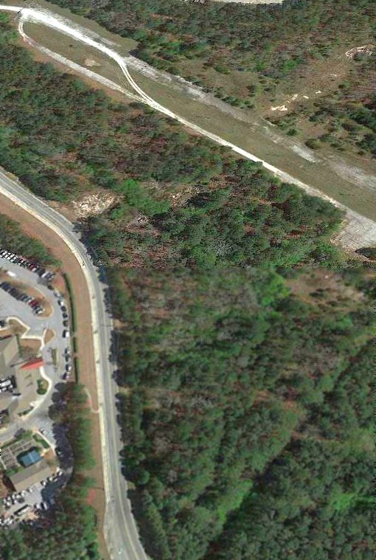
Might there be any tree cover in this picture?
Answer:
Yes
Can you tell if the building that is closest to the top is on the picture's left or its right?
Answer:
left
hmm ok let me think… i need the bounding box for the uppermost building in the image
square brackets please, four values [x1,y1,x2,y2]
[0,334,43,418]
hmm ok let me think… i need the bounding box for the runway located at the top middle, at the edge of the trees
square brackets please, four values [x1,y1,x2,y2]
[130,55,321,162]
